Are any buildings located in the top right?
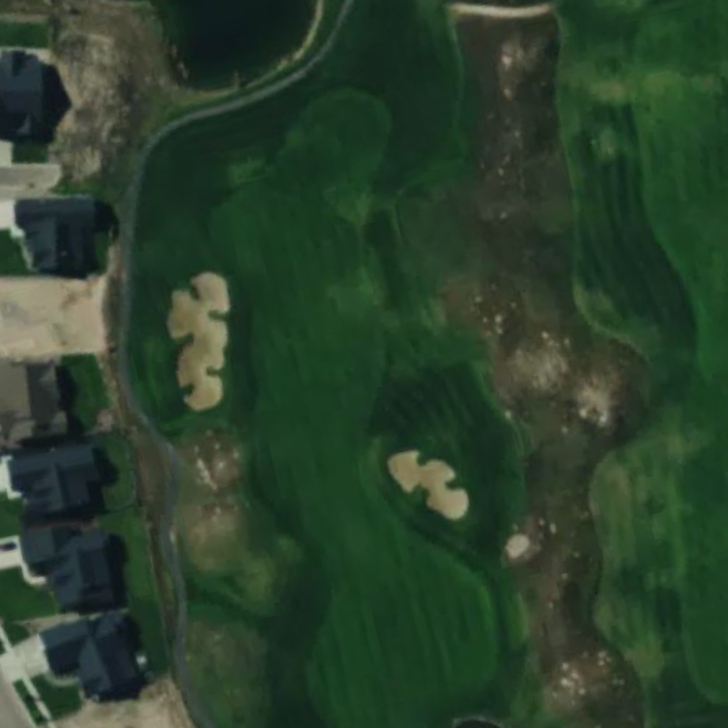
No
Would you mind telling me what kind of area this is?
golf course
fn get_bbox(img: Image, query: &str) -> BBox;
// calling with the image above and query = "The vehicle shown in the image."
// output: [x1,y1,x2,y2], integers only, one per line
[0,539,19,552]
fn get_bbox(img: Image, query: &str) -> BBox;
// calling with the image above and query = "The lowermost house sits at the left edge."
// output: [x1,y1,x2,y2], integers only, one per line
[33,607,145,700]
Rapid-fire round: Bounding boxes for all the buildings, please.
[19,524,118,611]
[12,194,97,274]
[33,607,145,700]
[0,357,69,443]
[0,49,47,140]
[7,439,103,521]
